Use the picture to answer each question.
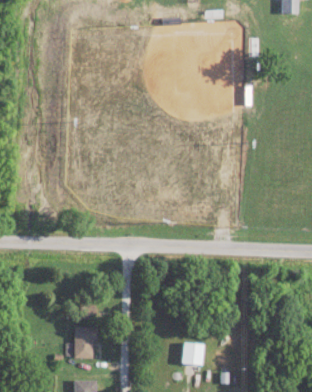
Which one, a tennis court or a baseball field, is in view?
baseball field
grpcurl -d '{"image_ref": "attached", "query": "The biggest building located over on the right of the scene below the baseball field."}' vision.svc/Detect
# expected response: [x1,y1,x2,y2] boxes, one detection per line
[182,342,204,367]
